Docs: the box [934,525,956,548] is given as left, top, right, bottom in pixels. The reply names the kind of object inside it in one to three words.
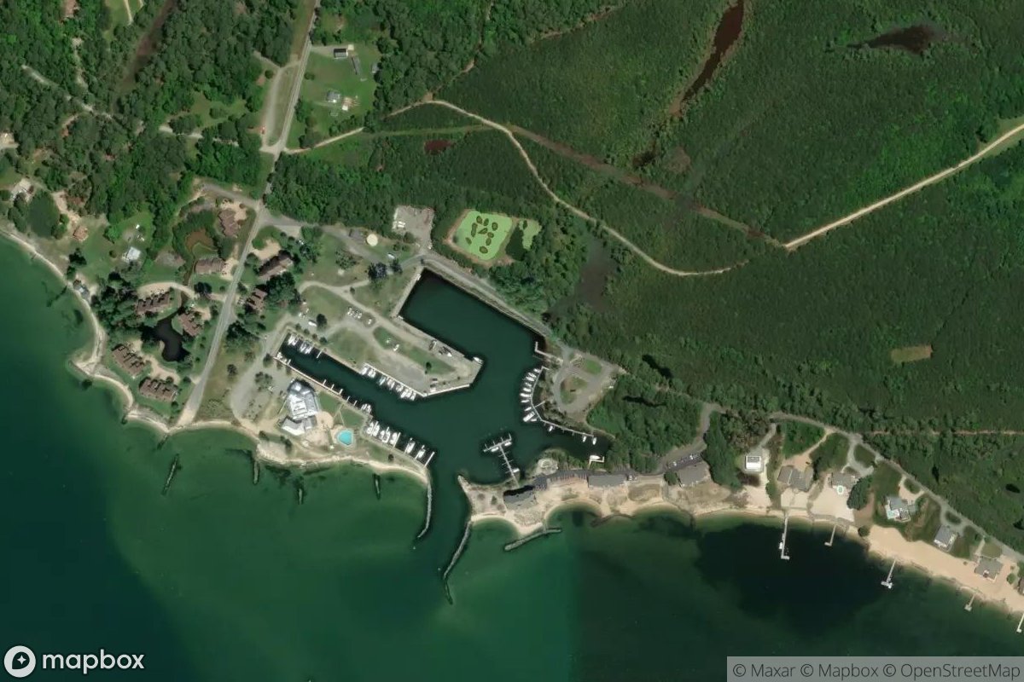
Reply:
house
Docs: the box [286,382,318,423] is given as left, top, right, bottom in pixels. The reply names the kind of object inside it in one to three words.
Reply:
building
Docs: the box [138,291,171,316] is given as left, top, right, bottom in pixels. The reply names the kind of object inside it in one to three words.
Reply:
house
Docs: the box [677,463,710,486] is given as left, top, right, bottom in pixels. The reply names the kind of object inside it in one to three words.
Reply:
building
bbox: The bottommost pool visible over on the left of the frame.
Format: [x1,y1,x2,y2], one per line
[336,428,354,446]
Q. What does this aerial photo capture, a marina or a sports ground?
marina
